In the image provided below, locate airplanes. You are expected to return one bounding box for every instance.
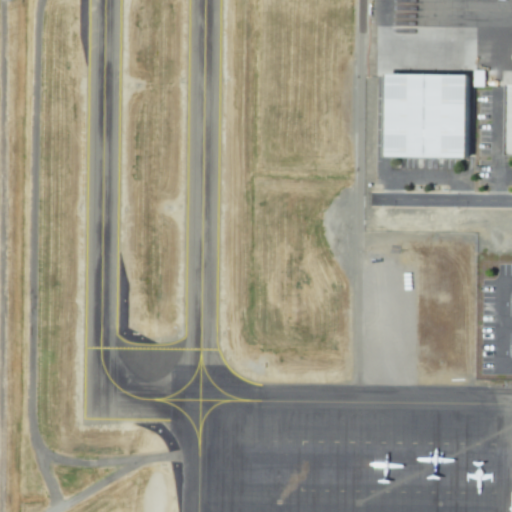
[468,462,492,495]
[417,448,455,481]
[369,454,406,484]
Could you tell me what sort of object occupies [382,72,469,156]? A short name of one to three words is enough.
hangar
